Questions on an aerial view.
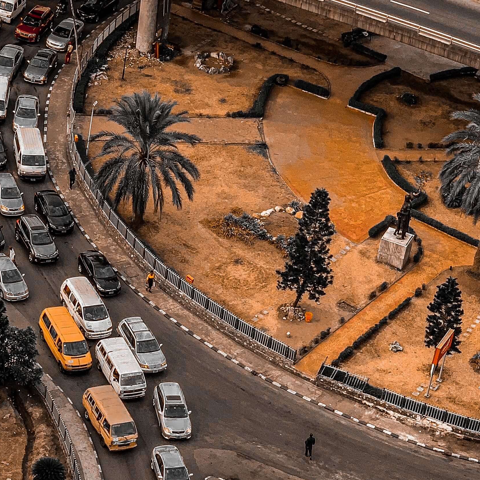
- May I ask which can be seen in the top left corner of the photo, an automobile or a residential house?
automobile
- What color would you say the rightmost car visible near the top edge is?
black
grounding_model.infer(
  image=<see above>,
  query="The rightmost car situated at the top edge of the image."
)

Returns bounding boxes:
[80,0,123,24]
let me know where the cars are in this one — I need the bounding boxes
[25,49,62,85]
[16,3,57,43]
[147,442,196,480]
[80,0,123,24]
[0,129,10,170]
[75,248,123,299]
[46,18,89,51]
[10,94,41,130]
[34,189,76,234]
[0,42,27,79]
[114,315,166,374]
[147,379,194,442]
[0,251,24,302]
[12,212,60,265]
[0,172,26,216]
[0,16,10,35]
